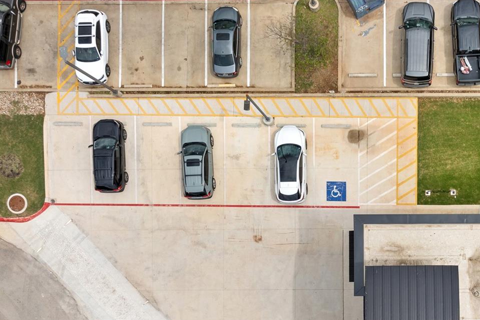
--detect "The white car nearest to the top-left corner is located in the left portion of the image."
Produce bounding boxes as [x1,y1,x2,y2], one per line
[70,9,113,87]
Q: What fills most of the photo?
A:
paved ground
